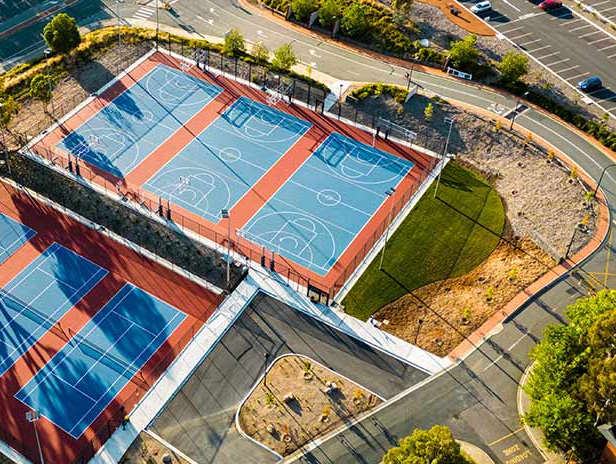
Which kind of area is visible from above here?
sports ground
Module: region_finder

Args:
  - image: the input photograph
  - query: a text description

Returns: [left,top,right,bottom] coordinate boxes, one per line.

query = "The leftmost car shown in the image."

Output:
[471,1,493,14]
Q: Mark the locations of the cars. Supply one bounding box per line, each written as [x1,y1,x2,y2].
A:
[471,1,493,14]
[541,0,562,11]
[579,76,603,92]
